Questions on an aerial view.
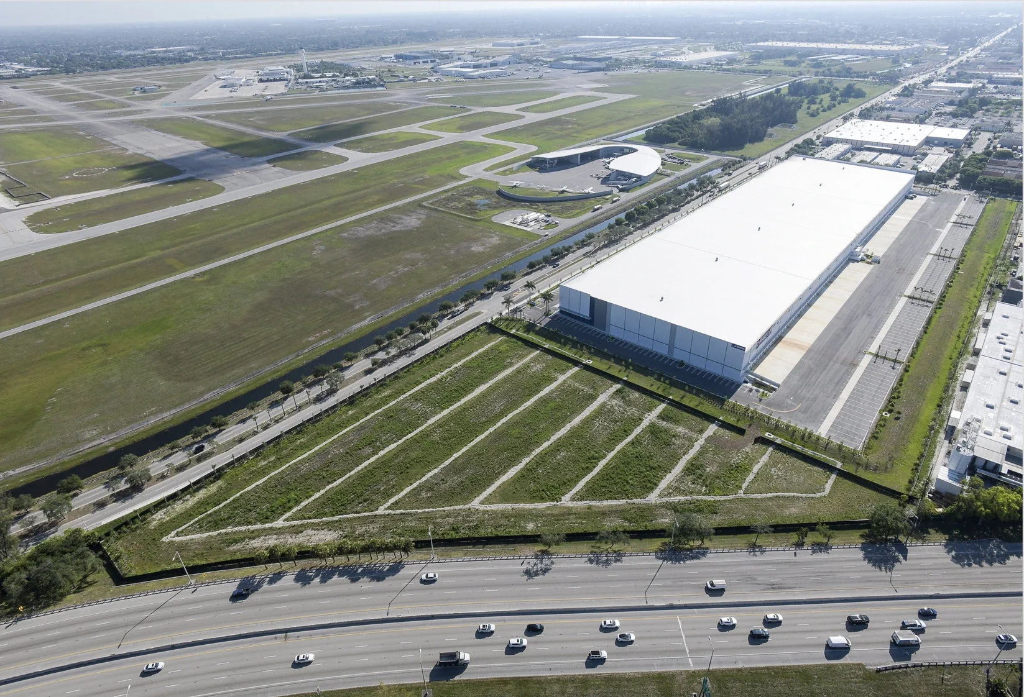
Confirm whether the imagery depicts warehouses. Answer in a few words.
Yes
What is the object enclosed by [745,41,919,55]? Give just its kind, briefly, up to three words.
building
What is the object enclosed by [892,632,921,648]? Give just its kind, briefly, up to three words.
vehicle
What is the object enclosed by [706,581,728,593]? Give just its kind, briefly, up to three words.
vehicle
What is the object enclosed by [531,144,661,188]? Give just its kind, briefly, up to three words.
hangar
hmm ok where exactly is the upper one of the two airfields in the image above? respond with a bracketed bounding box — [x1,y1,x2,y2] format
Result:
[0,36,789,273]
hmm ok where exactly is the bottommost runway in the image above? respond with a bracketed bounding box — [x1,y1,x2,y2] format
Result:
[71,122,291,189]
